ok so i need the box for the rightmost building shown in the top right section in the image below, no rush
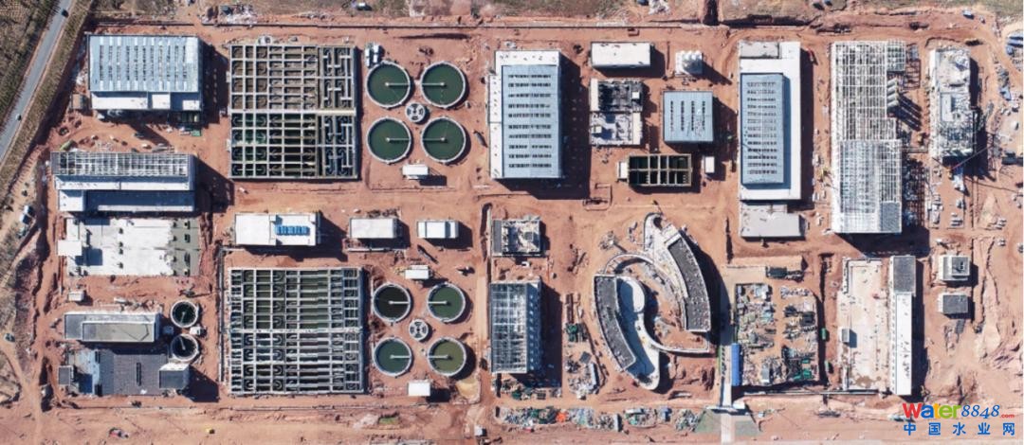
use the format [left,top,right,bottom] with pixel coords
[922,50,977,154]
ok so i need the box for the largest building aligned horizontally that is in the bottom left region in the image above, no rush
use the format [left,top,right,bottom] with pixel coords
[69,349,178,395]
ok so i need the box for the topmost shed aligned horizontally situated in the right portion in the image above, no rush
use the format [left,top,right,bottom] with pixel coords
[591,43,651,69]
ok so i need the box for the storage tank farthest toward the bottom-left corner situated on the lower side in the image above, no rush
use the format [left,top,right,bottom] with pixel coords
[170,332,202,362]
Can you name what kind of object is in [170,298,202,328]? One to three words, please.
storage tank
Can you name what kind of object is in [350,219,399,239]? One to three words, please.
shed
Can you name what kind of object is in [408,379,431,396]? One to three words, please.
shed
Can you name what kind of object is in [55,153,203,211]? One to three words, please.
building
